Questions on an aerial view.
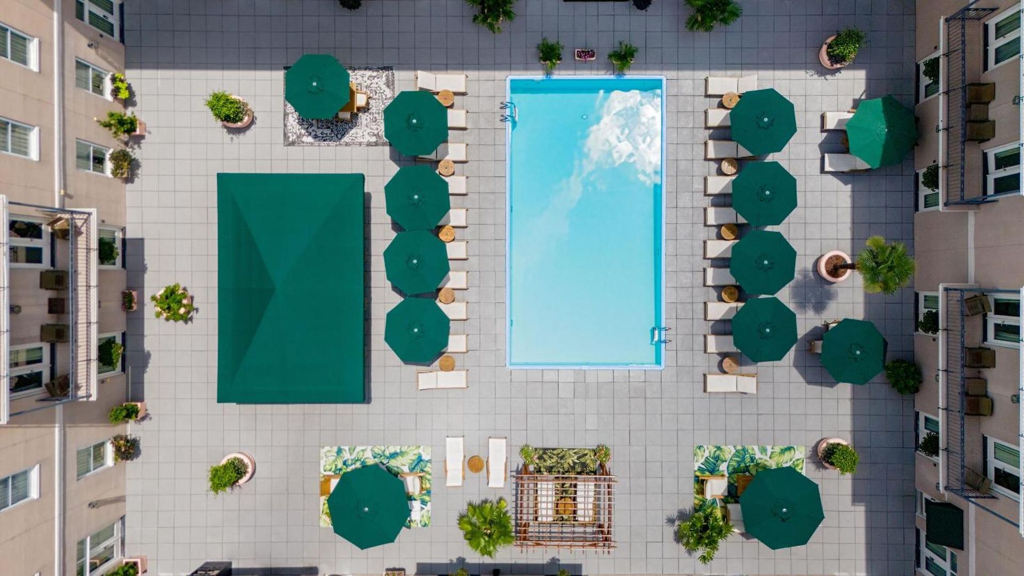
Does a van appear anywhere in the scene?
No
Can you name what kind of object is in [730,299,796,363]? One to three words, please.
umbrella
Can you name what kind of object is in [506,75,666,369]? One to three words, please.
swimming pool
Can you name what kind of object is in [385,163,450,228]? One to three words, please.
umbrella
